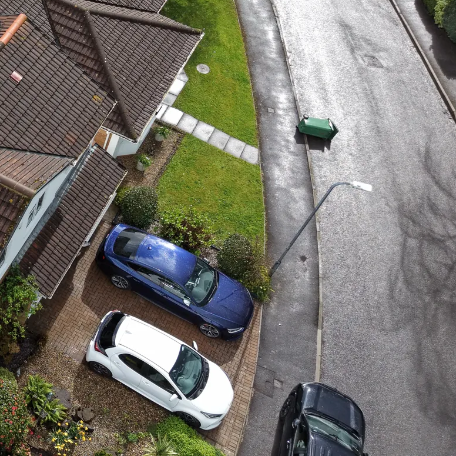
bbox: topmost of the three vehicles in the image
[94,225,258,343]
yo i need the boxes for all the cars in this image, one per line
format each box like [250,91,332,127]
[94,225,258,343]
[278,376,382,456]
[85,311,240,432]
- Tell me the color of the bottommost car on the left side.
white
